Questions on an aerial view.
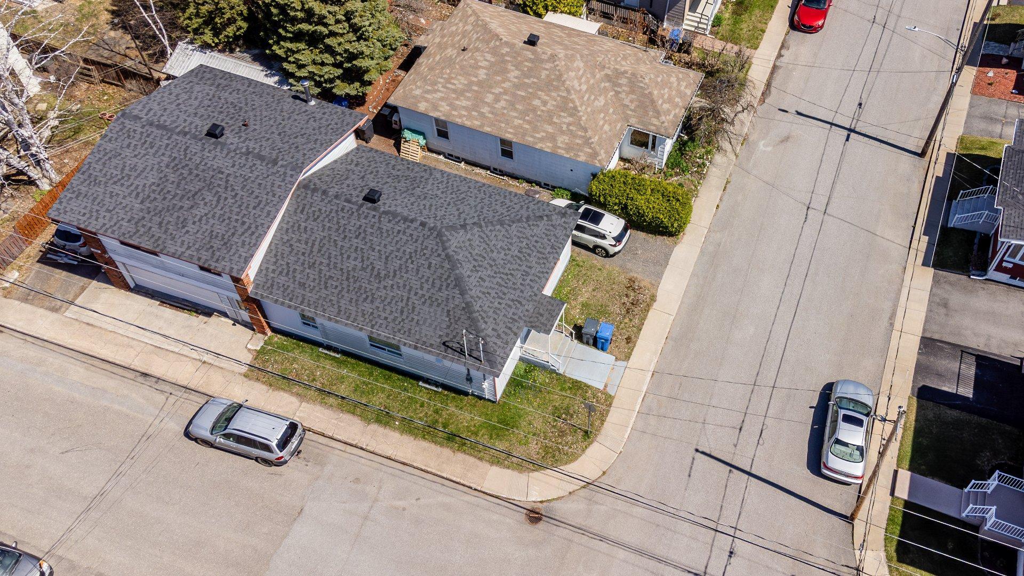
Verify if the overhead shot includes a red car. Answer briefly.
Yes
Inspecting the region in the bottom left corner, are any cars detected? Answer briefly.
Yes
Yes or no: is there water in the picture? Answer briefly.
No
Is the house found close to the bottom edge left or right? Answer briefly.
right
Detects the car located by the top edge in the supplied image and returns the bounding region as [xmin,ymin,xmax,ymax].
[793,0,839,38]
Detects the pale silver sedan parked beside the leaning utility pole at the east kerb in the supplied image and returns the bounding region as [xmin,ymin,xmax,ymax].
[815,373,883,486]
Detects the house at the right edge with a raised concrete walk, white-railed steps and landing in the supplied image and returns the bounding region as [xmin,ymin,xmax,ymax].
[890,453,1024,576]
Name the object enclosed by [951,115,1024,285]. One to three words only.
house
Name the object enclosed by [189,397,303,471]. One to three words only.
car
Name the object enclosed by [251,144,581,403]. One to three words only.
house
